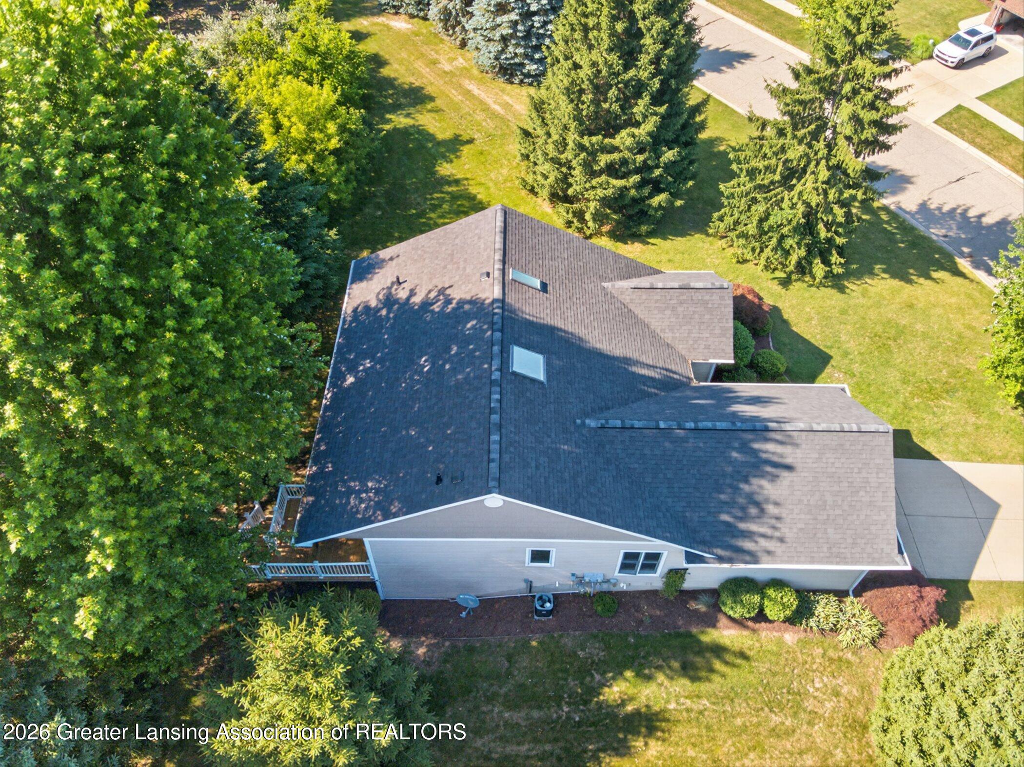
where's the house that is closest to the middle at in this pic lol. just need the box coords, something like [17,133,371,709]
[291,205,913,604]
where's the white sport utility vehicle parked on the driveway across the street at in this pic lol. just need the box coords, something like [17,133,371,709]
[928,17,994,64]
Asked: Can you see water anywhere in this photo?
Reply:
No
